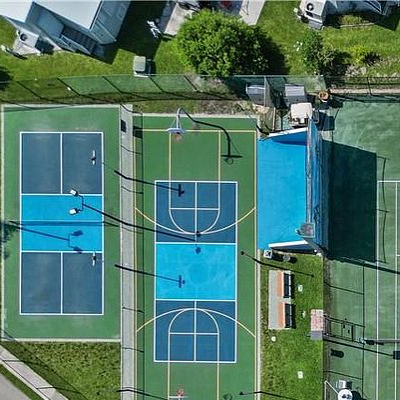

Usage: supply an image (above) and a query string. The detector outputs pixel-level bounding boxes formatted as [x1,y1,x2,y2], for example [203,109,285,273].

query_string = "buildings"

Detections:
[322,0,400,15]
[37,0,151,57]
